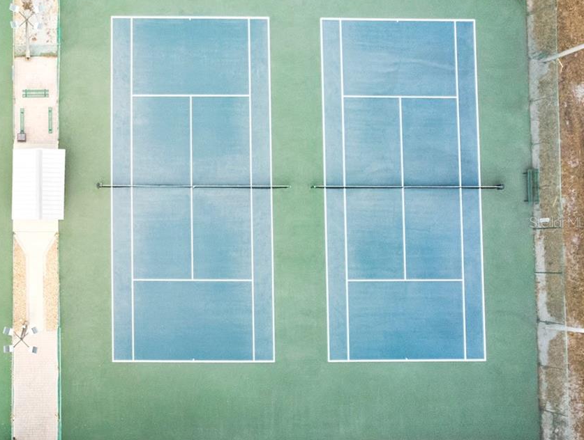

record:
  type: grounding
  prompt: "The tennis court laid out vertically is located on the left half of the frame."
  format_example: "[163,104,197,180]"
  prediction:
[112,17,275,362]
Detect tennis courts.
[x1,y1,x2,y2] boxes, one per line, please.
[320,19,486,362]
[112,17,275,362]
